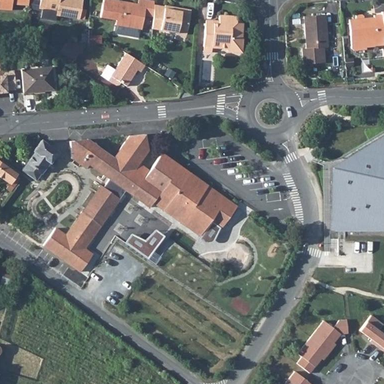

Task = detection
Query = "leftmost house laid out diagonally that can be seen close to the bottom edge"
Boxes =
[296,320,341,373]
